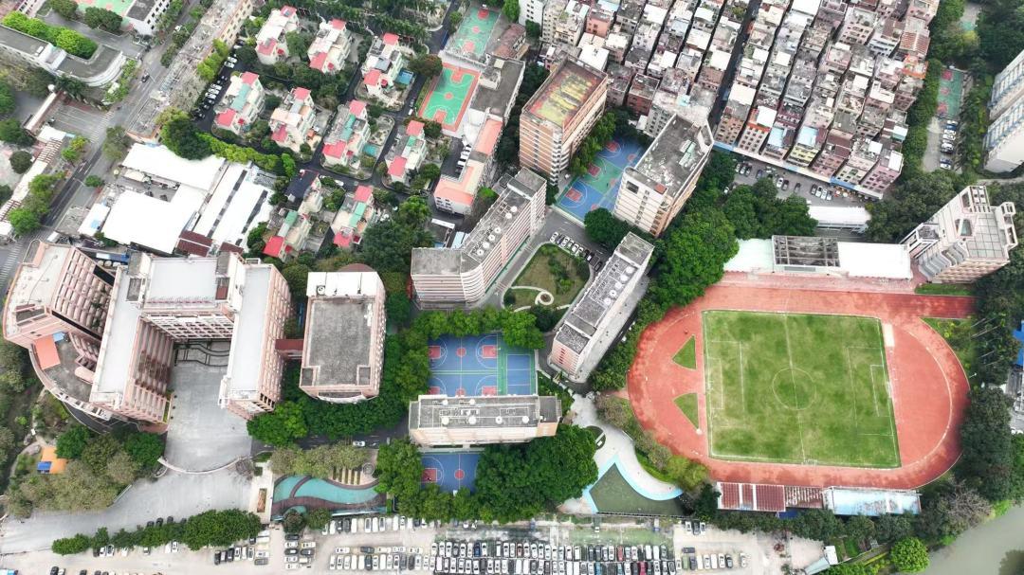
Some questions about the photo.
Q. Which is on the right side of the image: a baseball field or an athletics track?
athletics track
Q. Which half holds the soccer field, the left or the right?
right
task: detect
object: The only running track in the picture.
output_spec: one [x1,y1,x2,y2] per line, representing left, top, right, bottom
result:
[627,274,975,488]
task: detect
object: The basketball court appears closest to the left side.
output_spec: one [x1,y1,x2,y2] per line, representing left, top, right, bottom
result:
[77,0,133,26]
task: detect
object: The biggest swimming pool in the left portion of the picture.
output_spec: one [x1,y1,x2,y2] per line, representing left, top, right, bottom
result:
[272,473,388,518]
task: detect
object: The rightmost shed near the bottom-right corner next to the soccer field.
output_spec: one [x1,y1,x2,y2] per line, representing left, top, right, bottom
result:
[823,486,919,515]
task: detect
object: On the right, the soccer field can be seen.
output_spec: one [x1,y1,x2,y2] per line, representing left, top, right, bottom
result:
[704,310,900,469]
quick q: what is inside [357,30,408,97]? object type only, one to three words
house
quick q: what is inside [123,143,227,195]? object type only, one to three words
building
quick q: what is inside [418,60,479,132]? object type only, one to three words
basketball court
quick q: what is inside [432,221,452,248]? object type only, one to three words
shed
